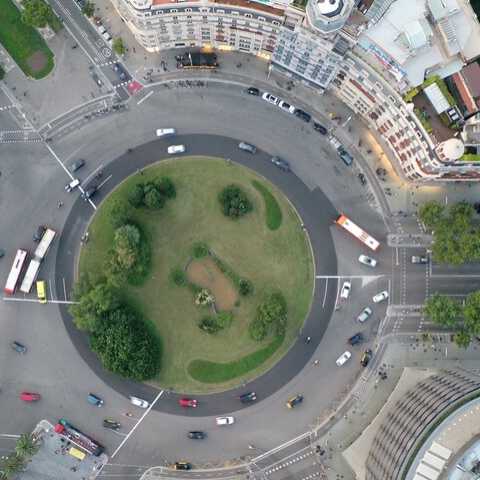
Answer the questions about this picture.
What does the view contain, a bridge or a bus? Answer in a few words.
bus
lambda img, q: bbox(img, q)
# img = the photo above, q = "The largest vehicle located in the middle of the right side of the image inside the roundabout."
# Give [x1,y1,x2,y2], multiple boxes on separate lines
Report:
[331,211,381,253]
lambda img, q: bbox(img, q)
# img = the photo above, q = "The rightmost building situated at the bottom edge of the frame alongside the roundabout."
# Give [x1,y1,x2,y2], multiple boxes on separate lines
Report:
[342,367,480,480]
